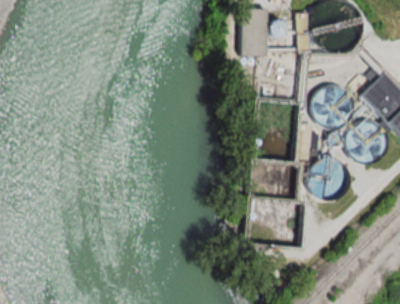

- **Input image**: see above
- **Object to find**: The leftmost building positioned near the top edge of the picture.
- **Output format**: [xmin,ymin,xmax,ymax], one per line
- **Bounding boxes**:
[243,9,268,56]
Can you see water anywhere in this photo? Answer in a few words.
Yes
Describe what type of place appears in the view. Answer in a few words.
industrial area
